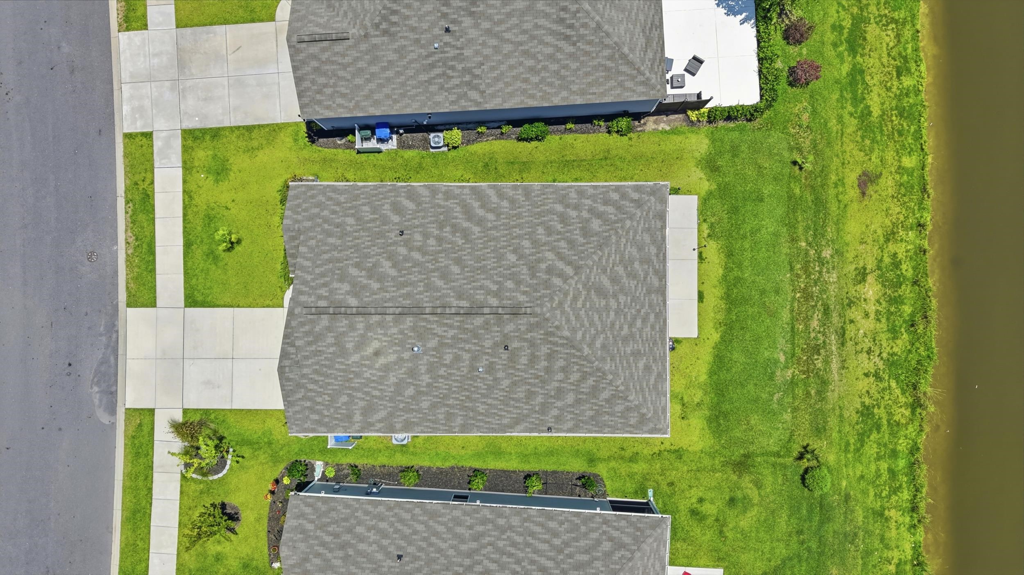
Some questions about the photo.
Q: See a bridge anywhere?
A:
No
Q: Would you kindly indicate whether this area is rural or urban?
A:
urban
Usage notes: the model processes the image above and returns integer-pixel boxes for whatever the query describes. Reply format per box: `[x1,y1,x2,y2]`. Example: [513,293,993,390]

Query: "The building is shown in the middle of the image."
[278,182,672,437]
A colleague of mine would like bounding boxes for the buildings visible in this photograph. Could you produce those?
[281,471,672,575]
[289,0,668,138]
[278,182,672,437]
